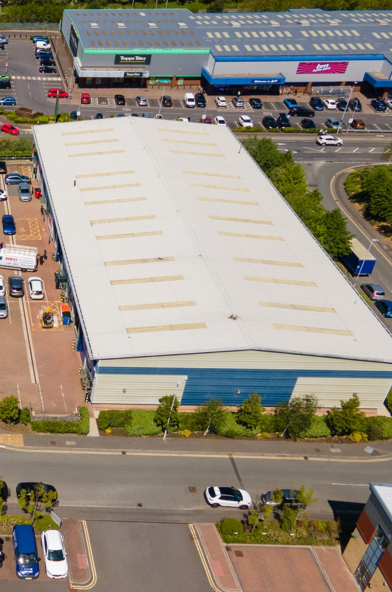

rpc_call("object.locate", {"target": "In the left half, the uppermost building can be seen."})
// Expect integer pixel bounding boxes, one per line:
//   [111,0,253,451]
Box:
[58,8,208,85]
